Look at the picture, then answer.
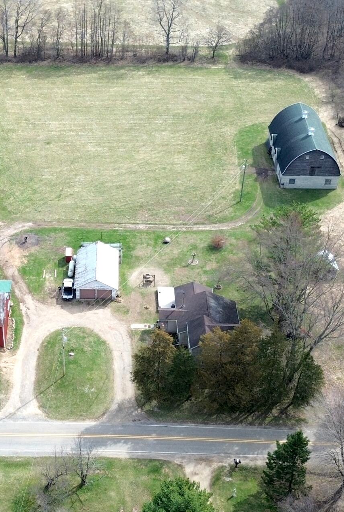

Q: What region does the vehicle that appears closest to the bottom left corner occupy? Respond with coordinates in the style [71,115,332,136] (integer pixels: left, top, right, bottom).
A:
[61,279,74,298]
